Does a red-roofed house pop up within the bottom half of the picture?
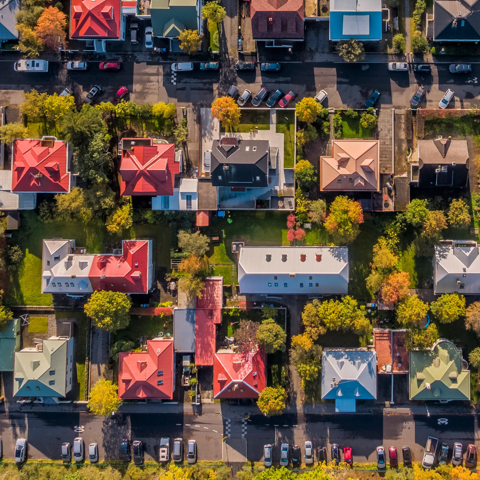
Yes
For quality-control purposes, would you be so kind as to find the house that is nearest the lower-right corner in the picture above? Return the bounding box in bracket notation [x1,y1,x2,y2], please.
[409,333,470,403]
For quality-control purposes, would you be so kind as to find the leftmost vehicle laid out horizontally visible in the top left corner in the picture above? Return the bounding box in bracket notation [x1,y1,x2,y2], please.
[13,59,50,71]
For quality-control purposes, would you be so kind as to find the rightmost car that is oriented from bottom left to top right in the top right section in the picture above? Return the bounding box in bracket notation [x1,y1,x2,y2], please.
[438,88,455,108]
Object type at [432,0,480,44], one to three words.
house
